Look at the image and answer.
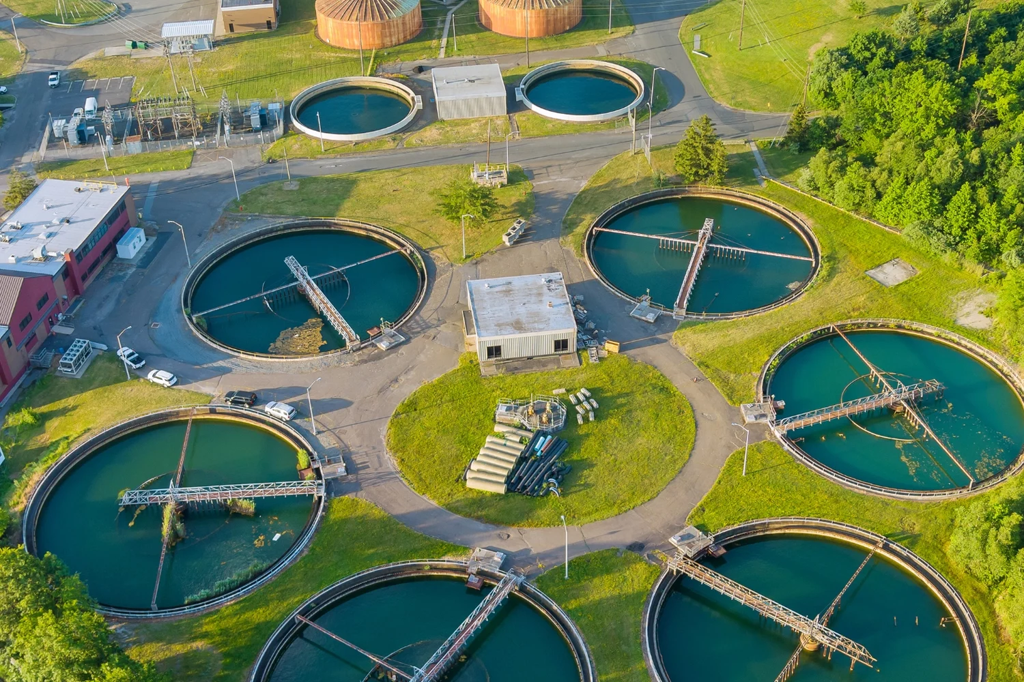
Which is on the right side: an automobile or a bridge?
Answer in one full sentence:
It is a bridge that can be seen on the right side.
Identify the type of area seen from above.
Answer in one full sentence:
What you see here is an industrial area.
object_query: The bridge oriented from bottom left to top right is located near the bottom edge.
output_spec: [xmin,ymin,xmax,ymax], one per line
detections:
[410,567,529,682]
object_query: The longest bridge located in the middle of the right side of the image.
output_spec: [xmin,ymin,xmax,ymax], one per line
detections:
[762,381,948,437]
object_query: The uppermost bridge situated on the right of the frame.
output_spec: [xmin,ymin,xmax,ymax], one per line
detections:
[674,218,714,322]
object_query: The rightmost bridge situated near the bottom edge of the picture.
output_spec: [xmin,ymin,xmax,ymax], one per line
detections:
[658,551,875,669]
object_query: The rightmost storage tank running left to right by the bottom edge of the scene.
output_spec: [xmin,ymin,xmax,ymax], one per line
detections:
[646,517,984,682]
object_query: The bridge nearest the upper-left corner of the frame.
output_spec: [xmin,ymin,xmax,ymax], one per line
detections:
[284,257,363,356]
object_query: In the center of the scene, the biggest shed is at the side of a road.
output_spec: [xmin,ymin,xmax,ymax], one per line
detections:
[457,271,579,361]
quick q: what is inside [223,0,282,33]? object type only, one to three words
building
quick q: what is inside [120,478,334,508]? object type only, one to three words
bridge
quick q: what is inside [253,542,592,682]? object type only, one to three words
storage tank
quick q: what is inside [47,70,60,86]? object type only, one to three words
vehicle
